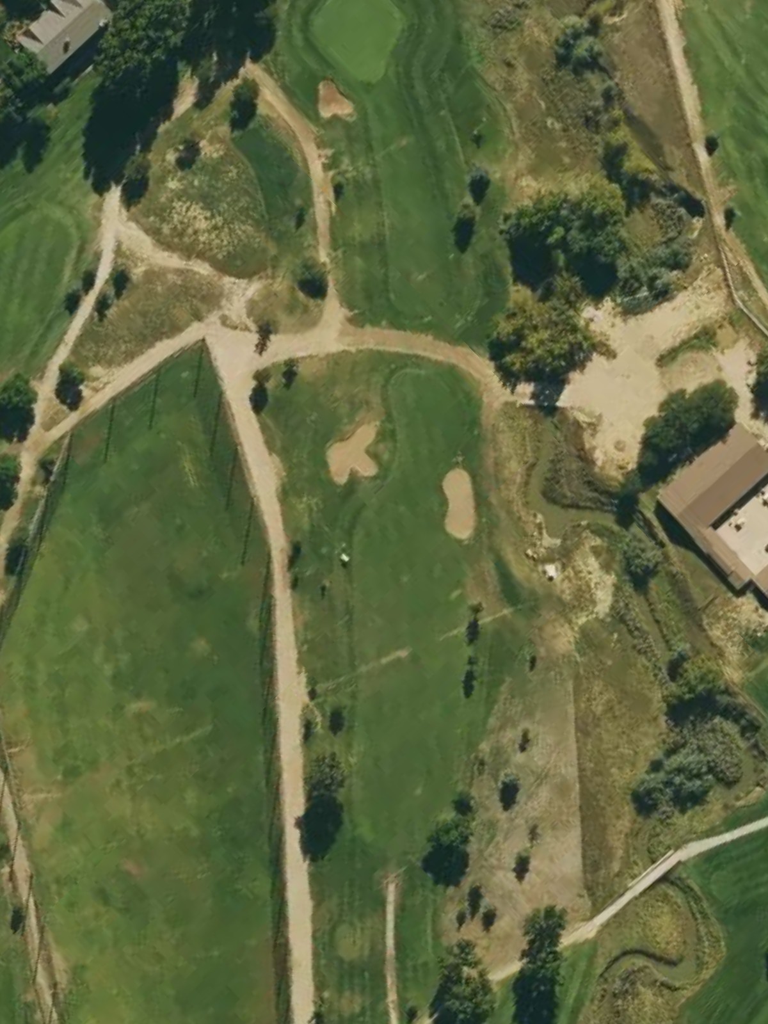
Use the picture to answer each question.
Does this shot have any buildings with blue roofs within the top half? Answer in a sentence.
No, within the top half there is no building with a blue roof.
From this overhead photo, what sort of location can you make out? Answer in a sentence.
This image shows a golf course.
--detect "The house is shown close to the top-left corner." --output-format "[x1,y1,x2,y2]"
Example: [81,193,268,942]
[19,0,110,70]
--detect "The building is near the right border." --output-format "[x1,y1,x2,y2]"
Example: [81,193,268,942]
[659,422,768,595]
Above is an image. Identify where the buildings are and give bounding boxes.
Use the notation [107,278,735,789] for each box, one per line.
[659,422,768,595]
[19,0,110,70]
